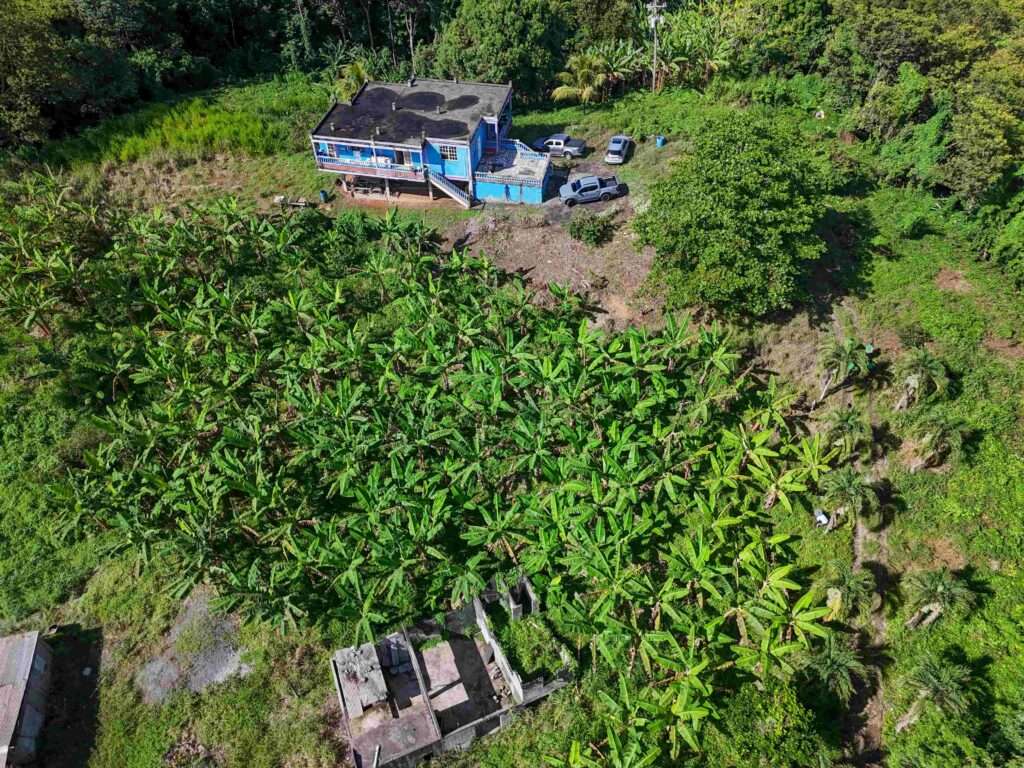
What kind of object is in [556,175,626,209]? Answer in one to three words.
truck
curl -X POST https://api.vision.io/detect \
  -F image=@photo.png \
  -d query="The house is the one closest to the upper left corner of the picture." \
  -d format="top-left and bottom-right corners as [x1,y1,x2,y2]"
[310,74,552,213]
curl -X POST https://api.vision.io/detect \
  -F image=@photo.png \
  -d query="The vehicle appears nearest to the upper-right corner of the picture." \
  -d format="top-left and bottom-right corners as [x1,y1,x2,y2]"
[601,135,633,163]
